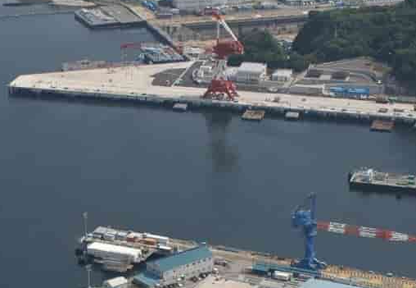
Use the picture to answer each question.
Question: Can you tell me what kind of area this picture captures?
port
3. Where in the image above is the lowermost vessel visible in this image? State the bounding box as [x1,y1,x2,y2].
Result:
[91,244,145,274]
